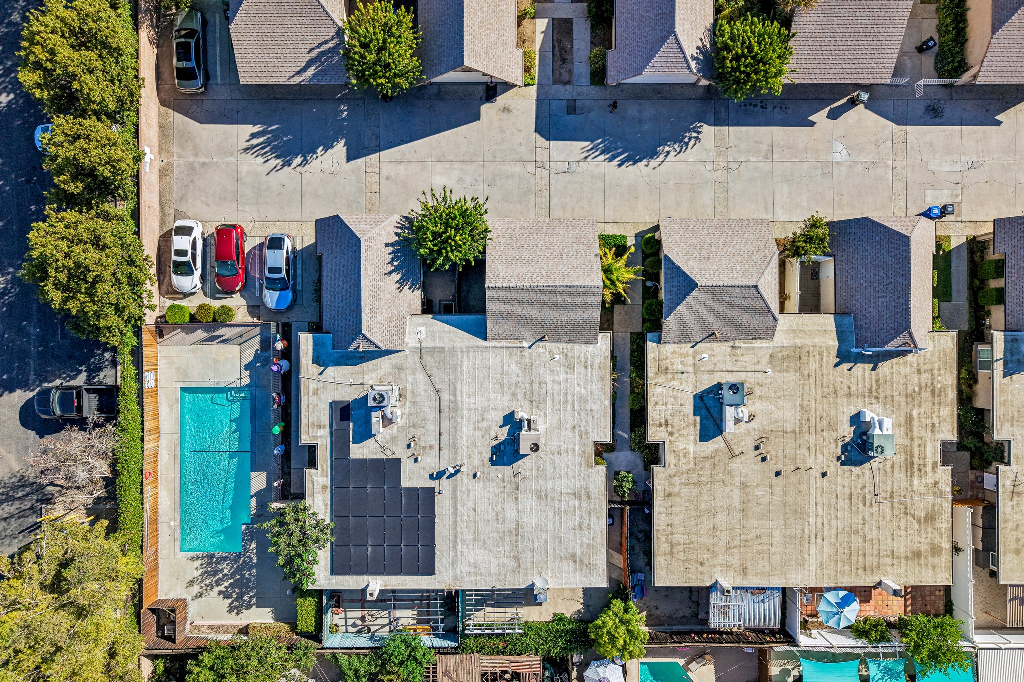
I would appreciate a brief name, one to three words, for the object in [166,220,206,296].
car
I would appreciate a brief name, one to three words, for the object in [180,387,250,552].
swimming pool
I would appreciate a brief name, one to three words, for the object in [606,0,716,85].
building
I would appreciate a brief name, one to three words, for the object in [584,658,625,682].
umbrella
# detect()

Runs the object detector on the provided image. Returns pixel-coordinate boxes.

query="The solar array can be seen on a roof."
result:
[332,401,437,575]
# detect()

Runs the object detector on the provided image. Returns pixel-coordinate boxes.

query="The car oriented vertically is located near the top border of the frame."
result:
[168,11,209,94]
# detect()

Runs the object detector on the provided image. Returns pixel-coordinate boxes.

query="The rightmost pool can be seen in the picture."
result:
[640,662,689,682]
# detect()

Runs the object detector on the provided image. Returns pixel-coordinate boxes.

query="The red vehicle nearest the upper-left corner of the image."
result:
[210,224,248,293]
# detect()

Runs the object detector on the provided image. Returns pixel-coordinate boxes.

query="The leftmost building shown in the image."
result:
[228,0,353,85]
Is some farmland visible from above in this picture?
No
